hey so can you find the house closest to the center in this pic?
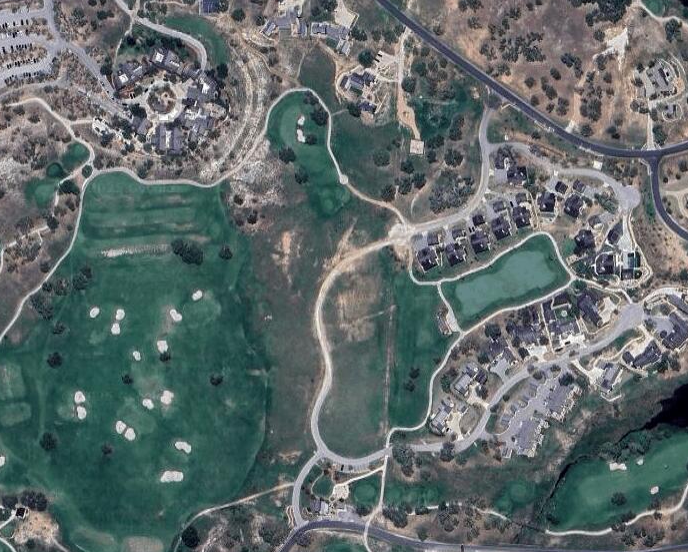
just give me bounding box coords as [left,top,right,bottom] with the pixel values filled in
[417,233,439,273]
